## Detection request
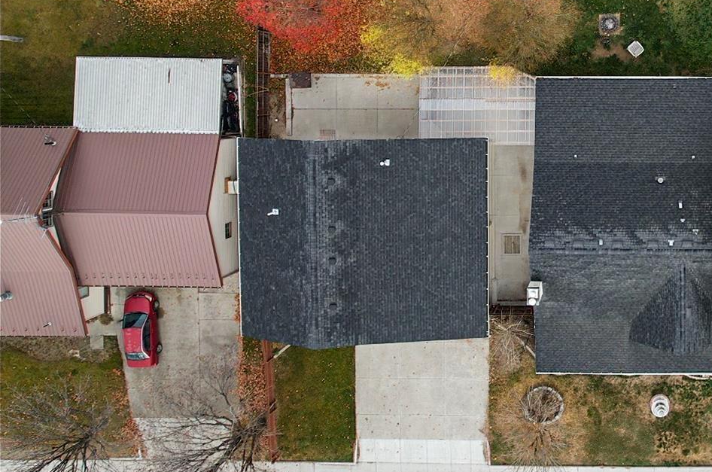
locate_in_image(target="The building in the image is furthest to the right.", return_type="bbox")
[529,76,712,377]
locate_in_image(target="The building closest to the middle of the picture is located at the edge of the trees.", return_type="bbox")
[238,133,491,350]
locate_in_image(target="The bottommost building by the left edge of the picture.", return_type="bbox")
[0,126,238,339]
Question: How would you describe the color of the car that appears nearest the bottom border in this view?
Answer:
red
